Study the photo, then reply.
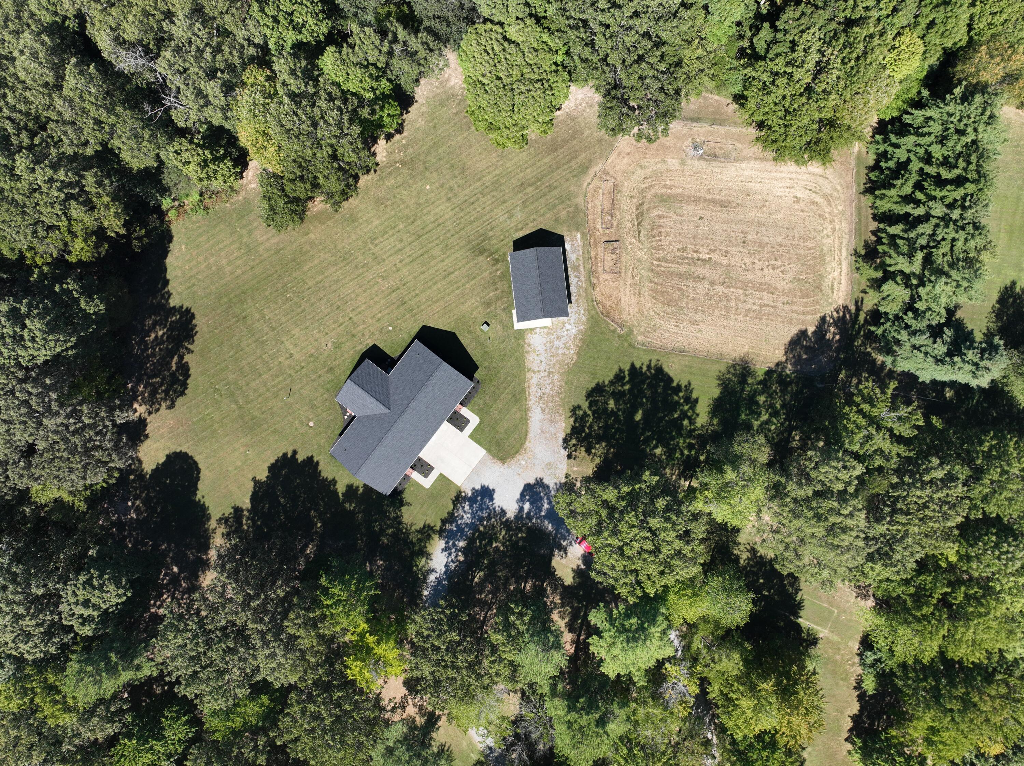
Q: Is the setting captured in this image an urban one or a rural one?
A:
rural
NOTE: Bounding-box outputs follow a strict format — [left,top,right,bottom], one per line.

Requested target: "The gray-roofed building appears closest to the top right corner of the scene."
[508,246,570,323]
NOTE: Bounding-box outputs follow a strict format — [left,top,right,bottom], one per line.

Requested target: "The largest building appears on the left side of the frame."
[330,339,474,497]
